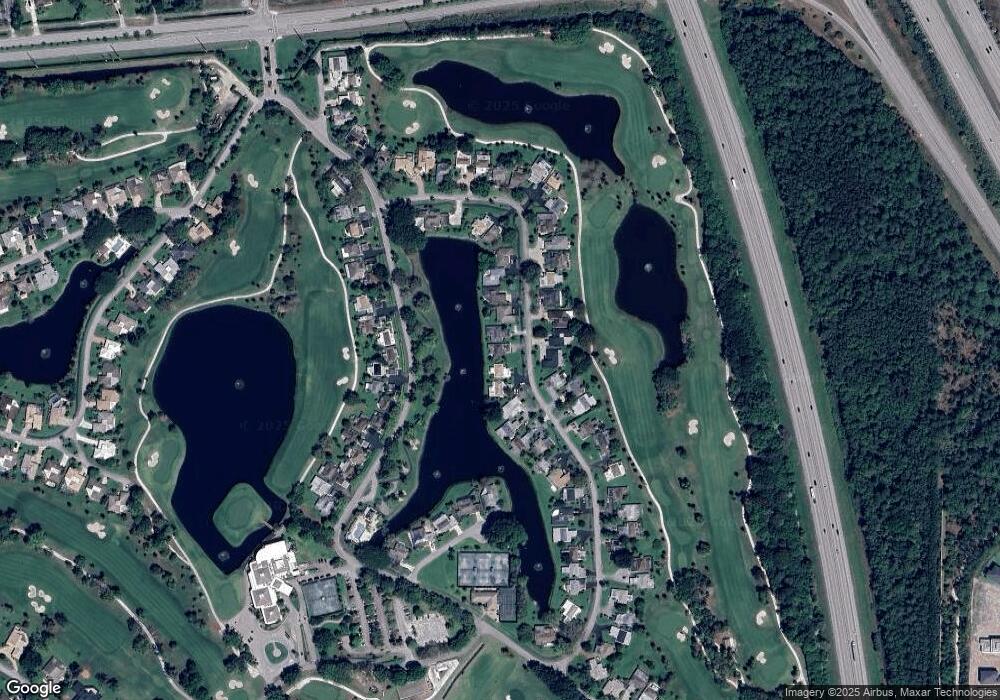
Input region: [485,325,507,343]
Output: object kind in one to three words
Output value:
house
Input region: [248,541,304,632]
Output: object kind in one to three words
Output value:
building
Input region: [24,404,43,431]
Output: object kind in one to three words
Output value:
house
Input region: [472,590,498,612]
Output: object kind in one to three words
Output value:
building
